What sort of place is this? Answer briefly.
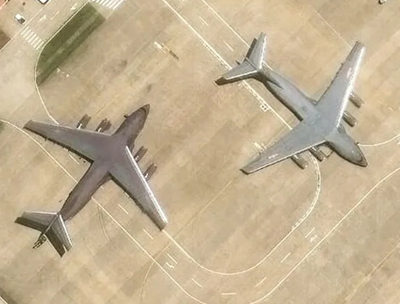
airport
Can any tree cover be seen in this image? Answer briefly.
No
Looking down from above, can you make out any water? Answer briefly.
No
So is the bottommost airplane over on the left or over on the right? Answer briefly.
left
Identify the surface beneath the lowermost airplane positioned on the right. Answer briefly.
apron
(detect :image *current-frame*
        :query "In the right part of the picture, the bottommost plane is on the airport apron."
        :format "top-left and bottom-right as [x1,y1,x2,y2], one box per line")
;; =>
[223,31,367,173]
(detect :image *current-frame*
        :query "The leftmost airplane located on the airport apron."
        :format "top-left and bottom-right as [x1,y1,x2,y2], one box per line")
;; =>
[24,105,168,255]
